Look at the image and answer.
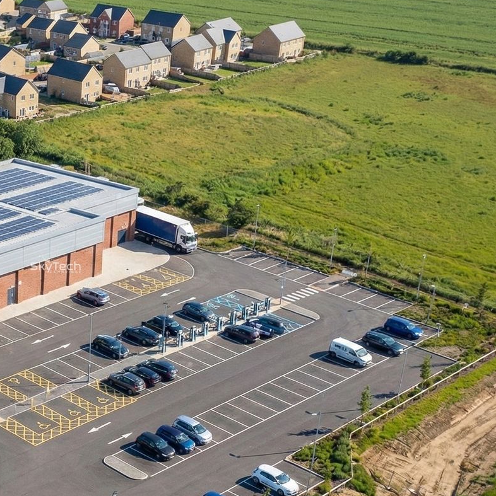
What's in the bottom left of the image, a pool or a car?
car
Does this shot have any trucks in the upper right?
No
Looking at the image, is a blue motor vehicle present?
Yes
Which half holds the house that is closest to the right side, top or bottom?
top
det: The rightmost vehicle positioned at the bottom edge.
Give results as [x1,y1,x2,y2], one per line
[252,463,298,492]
